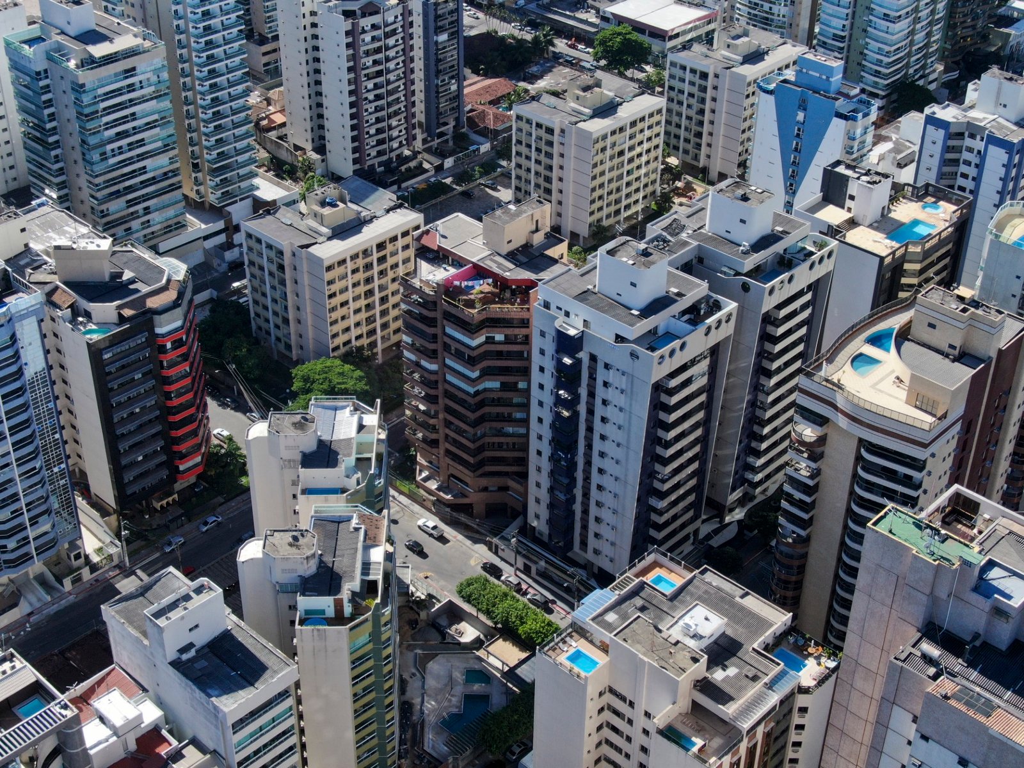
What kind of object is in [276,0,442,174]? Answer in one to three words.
building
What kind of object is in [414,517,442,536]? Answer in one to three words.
vehicle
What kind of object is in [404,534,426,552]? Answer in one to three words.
car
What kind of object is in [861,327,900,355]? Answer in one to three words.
swimming pool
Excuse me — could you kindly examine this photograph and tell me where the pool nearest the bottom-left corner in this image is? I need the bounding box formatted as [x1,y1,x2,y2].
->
[11,696,50,729]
